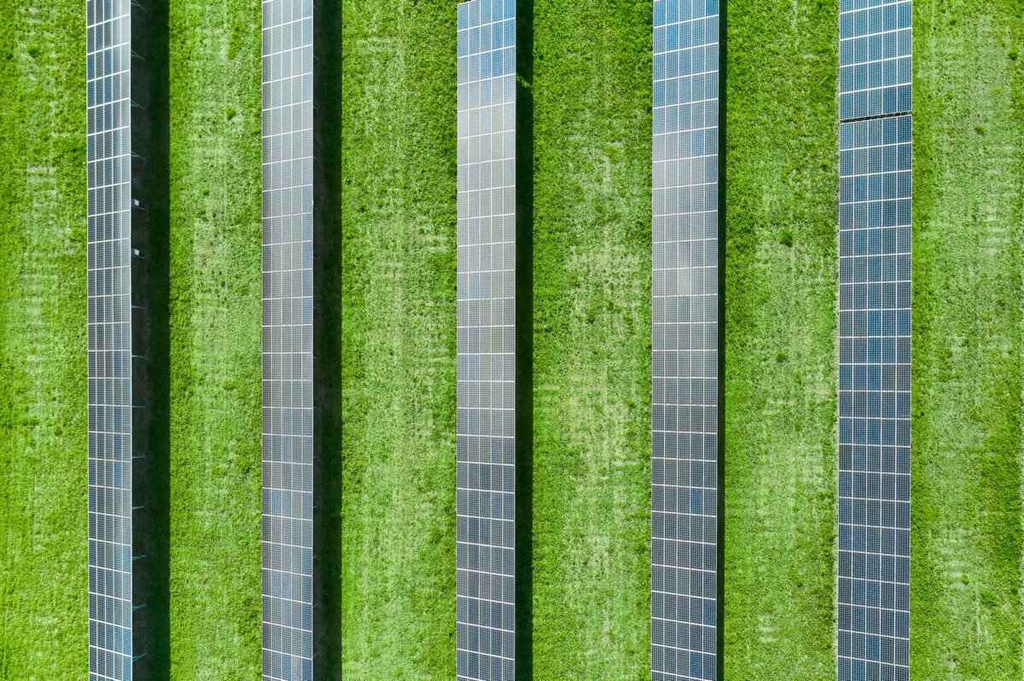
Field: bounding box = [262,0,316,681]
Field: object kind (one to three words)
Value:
solar array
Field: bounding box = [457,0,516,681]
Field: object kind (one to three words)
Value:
solar array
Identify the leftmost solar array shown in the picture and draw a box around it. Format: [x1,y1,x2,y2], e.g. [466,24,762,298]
[87,0,145,681]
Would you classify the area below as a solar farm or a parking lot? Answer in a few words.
solar farm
